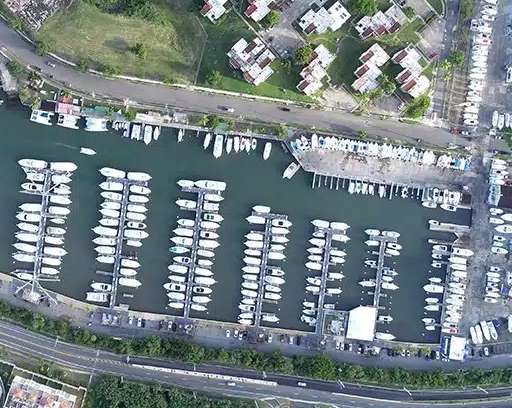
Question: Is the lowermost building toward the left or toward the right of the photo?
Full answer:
The lowermost building appears in the left half of the scene.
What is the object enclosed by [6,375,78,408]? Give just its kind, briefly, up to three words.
building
